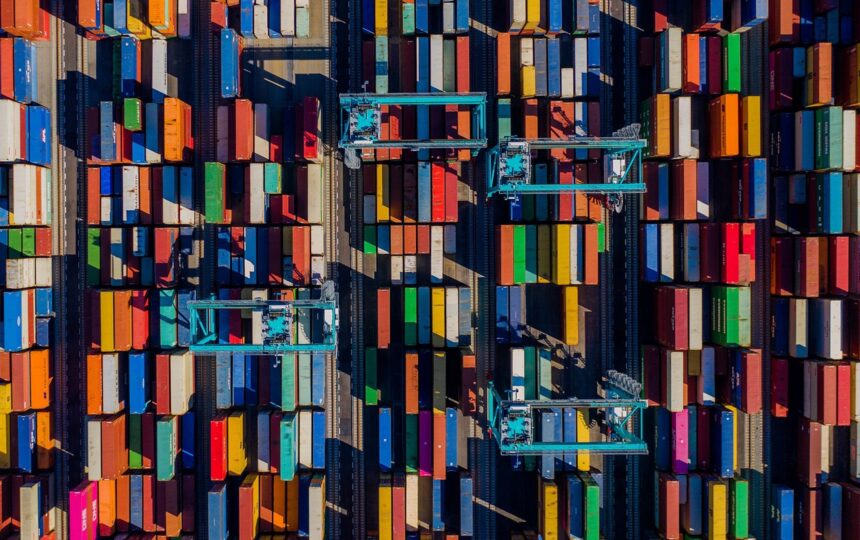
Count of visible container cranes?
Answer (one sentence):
In total, 4 container cranes can be seen.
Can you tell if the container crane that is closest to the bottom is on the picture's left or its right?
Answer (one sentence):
You can find the container crane that is closest to the bottom on the right side of the picture.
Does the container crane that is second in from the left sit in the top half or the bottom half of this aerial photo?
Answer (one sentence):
Seen from above, the container crane that is second in from the left lies in the top half of the view.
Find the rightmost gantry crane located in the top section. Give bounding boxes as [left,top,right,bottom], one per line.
[486,115,648,215]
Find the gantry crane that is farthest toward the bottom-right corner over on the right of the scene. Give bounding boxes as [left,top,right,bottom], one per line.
[488,364,651,464]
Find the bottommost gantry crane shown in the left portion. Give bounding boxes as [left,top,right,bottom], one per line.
[186,277,345,364]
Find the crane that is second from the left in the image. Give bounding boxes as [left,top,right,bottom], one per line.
[332,83,490,181]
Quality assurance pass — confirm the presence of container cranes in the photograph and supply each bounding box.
[486,115,648,215]
[186,277,345,364]
[488,364,651,464]
[332,83,490,181]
